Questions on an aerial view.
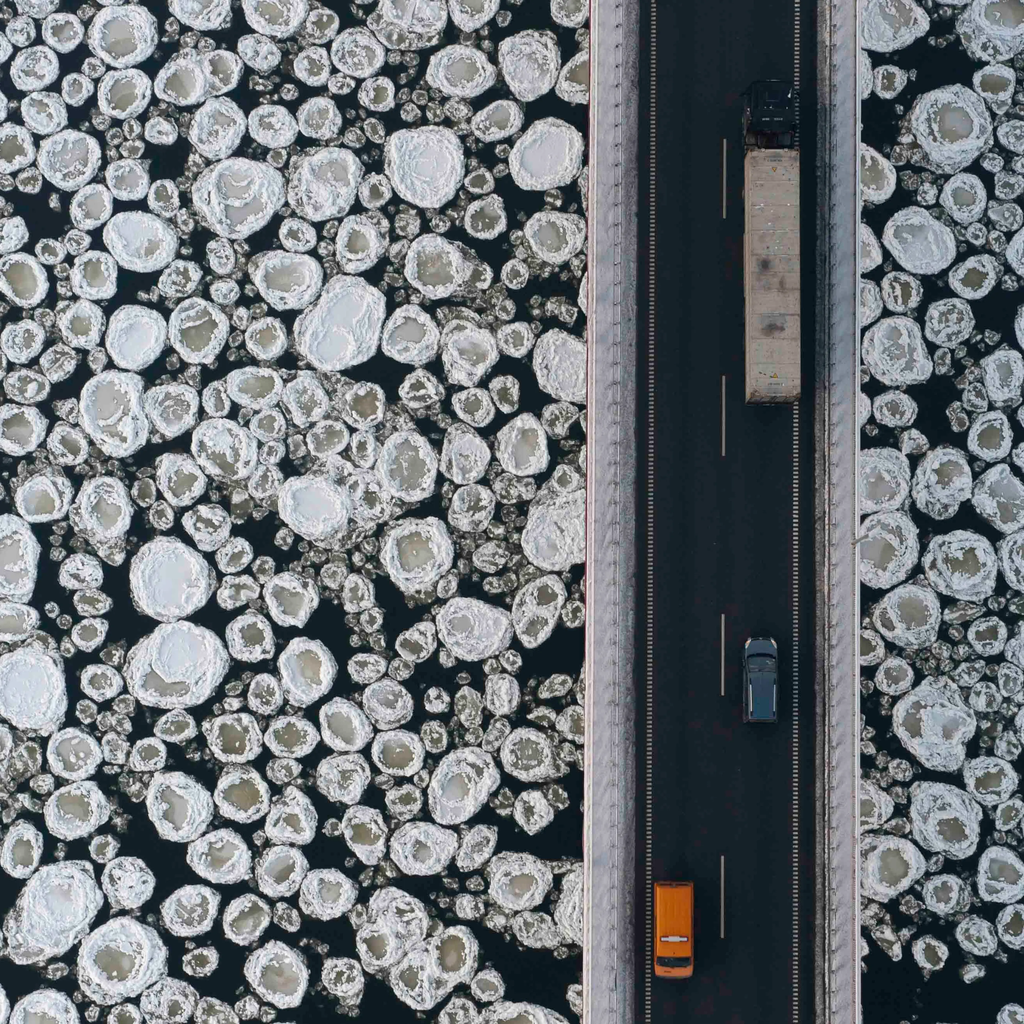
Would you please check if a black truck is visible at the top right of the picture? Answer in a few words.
Yes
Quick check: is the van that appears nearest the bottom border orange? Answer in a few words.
Yes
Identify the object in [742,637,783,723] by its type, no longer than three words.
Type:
car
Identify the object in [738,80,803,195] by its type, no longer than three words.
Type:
truck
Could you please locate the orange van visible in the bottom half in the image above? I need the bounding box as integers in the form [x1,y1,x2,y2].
[651,879,698,978]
